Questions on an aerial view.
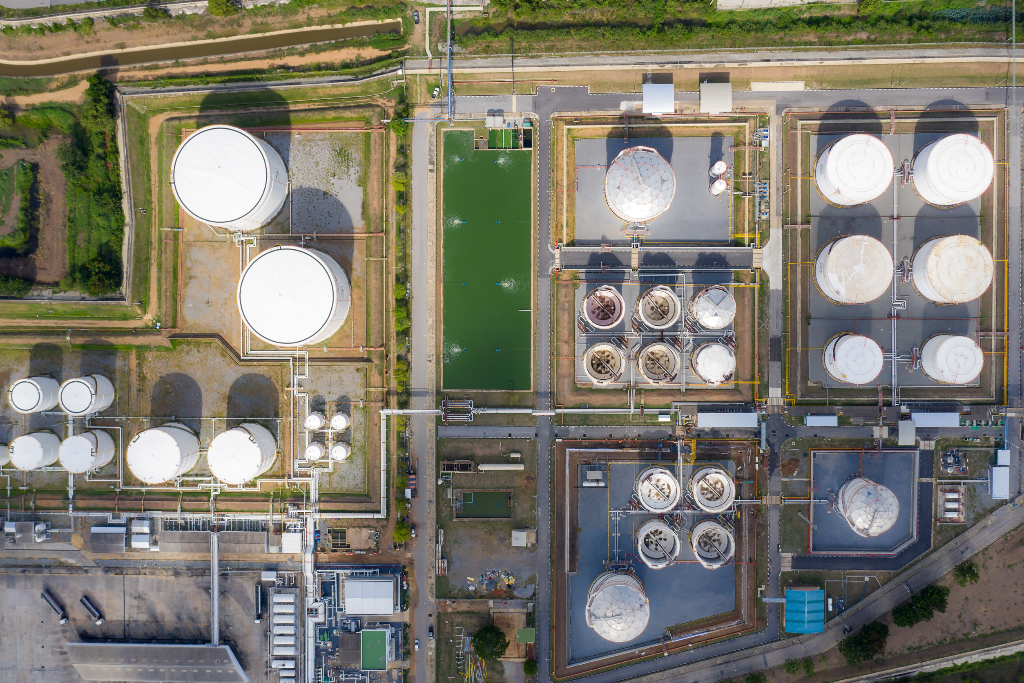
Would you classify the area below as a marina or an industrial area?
industrial area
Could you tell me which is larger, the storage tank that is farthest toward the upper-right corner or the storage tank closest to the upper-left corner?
the storage tank closest to the upper-left corner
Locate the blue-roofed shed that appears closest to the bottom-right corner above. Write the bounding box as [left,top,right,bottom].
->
[782,586,824,634]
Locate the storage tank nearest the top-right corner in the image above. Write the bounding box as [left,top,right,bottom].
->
[910,134,997,210]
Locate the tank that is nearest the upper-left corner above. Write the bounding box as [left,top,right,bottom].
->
[169,122,291,235]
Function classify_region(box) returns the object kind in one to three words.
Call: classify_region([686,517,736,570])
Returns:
storage tank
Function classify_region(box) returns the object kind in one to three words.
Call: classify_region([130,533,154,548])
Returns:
shed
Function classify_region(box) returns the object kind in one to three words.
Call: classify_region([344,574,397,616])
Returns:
building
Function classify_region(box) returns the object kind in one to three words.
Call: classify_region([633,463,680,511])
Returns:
storage tank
